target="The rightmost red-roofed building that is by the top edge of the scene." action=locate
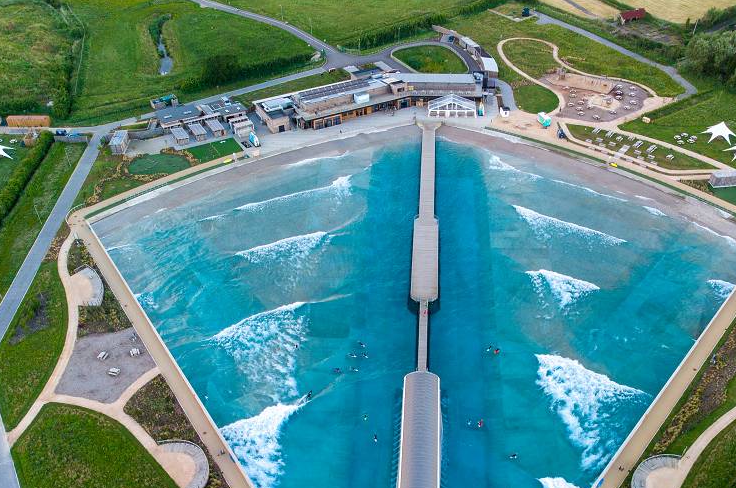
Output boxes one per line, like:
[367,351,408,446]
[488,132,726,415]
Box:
[621,6,648,25]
